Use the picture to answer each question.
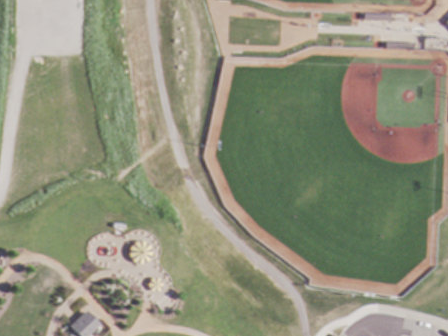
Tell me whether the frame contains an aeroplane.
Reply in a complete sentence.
No, I can't see a single aeroplane in this photo.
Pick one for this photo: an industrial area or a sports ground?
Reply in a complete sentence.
It's a sports ground.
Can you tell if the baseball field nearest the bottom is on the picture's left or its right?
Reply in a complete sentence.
The baseball field nearest the bottom appears in the right half of the scene.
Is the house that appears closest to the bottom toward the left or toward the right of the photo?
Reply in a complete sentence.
The house that appears closest to the bottom is on the left side of the image.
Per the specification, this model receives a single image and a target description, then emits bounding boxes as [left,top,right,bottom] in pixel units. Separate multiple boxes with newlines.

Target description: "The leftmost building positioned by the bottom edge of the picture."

[70,312,96,336]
